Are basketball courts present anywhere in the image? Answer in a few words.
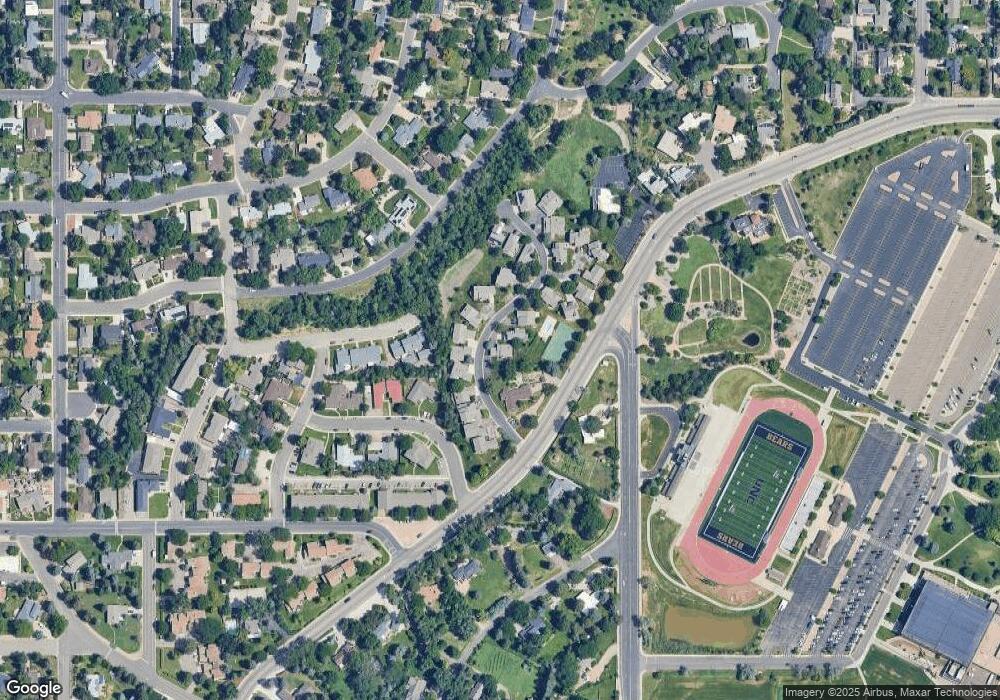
No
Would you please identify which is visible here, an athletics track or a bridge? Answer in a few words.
athletics track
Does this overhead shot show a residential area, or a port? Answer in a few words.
residential area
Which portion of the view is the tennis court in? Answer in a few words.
center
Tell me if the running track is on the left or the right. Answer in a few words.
right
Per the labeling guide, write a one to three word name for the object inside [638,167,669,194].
house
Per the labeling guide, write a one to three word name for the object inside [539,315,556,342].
swimming pool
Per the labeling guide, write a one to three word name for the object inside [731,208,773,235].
building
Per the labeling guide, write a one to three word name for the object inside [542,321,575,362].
tennis court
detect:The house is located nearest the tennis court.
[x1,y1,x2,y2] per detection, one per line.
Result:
[562,295,583,321]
